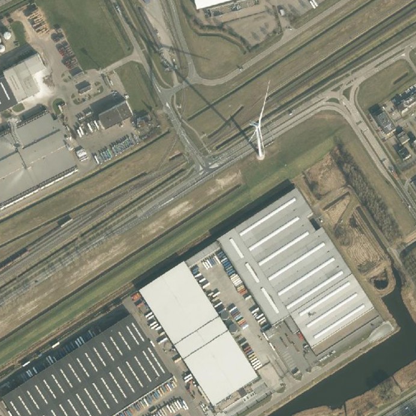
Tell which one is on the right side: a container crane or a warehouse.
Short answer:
warehouse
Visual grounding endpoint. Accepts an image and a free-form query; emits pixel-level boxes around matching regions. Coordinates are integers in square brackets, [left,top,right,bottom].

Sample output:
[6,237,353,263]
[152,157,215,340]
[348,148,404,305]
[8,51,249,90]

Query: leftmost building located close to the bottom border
[1,314,173,416]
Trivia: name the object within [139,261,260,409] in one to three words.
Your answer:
warehouse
